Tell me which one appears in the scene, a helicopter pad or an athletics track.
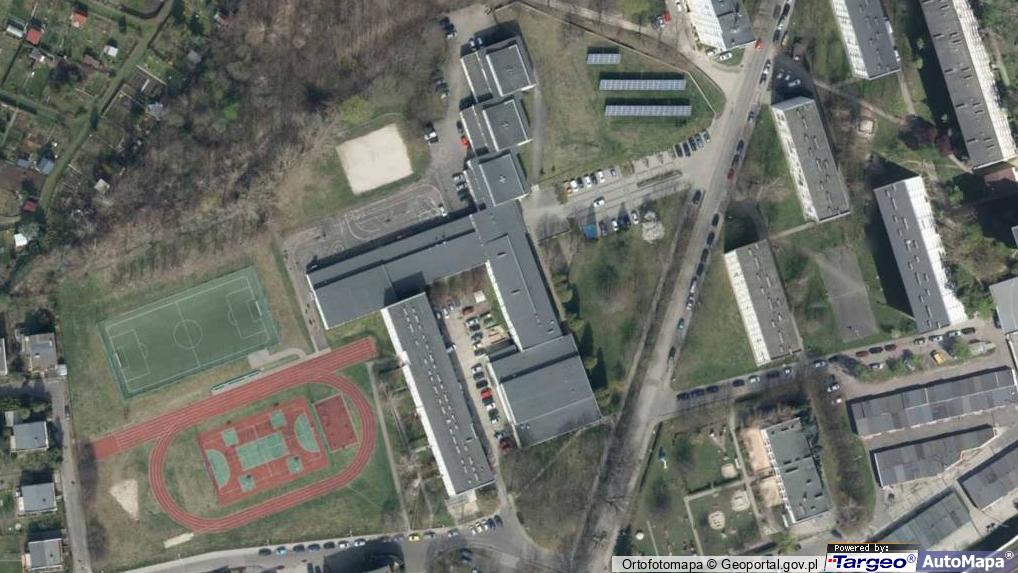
athletics track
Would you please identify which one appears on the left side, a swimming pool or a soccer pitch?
soccer pitch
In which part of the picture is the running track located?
bottom left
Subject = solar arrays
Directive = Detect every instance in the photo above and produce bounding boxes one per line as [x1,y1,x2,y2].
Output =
[599,80,685,91]
[588,54,619,65]
[605,104,691,115]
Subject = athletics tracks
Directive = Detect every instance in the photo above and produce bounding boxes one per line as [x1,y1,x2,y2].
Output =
[91,336,378,532]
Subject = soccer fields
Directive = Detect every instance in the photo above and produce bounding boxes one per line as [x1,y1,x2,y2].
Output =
[97,267,279,399]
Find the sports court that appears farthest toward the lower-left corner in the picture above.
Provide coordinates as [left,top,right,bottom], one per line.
[199,397,328,505]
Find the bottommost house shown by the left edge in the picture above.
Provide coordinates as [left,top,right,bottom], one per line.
[23,537,63,573]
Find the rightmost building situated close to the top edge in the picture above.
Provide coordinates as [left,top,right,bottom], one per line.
[904,0,1017,171]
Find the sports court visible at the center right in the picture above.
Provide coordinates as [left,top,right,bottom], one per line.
[816,246,878,341]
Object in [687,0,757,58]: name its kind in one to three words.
building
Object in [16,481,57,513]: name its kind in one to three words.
house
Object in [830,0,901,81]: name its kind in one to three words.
building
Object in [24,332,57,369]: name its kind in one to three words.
house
